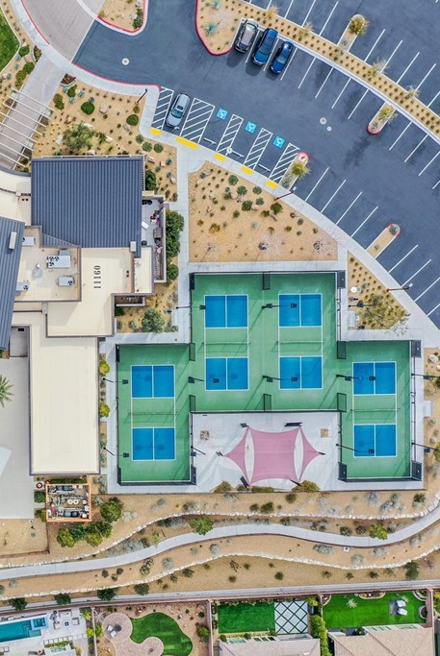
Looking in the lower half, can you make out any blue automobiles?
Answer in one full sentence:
No, I can find no blue automobile in the lower half.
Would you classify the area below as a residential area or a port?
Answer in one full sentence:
The area seen from above is a residential area.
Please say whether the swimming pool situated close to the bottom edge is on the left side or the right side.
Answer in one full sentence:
The swimming pool situated close to the bottom edge is on the left side of the image.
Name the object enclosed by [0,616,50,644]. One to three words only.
swimming pool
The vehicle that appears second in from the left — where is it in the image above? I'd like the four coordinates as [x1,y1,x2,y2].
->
[235,15,259,51]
